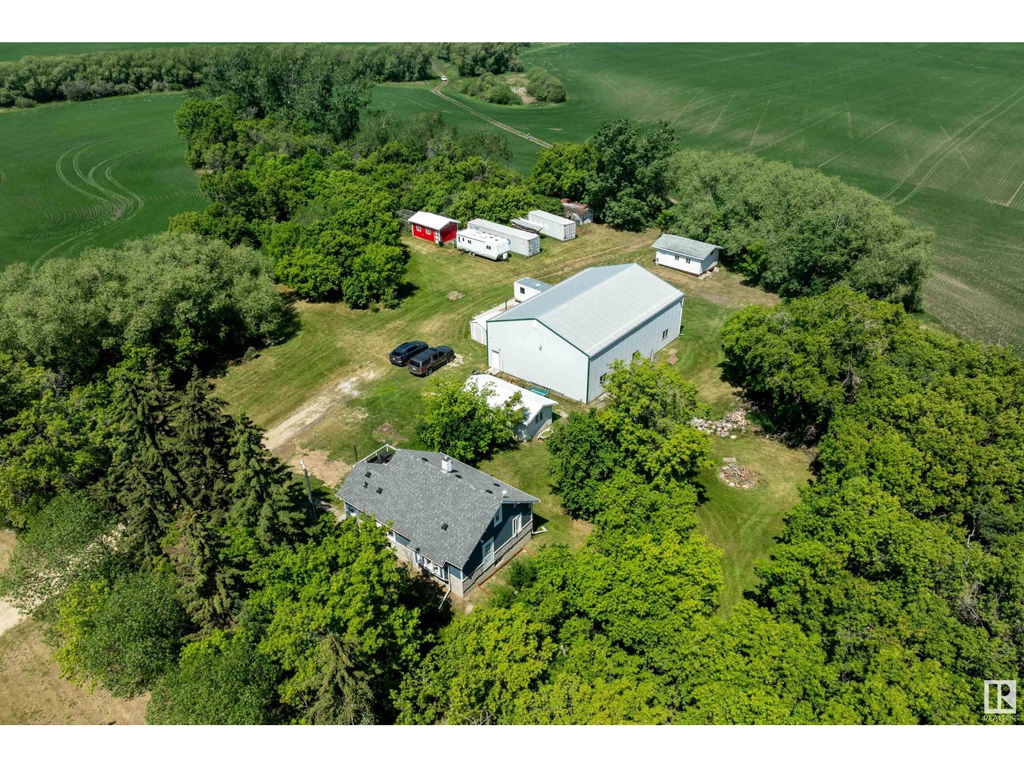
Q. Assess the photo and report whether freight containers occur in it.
Yes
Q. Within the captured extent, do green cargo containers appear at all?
No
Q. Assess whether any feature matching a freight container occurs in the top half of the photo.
Yes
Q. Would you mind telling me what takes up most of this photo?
trees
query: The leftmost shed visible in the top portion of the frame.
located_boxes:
[408,212,460,244]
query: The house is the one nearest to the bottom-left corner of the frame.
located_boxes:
[335,444,550,604]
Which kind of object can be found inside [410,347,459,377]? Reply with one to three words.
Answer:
car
